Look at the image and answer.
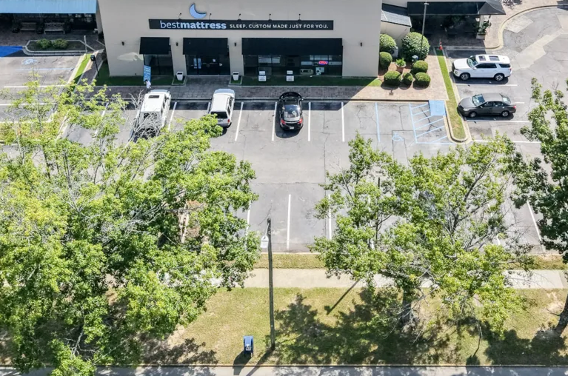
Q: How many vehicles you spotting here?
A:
5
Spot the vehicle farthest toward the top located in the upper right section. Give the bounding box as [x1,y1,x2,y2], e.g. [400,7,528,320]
[450,52,512,80]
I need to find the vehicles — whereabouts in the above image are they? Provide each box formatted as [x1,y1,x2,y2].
[135,89,170,131]
[275,94,303,133]
[456,89,519,115]
[450,52,512,80]
[206,90,234,128]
